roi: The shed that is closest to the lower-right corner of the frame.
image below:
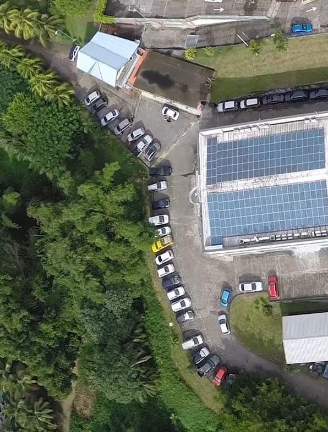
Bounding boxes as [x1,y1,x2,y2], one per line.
[283,311,328,364]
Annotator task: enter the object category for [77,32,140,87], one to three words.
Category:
building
